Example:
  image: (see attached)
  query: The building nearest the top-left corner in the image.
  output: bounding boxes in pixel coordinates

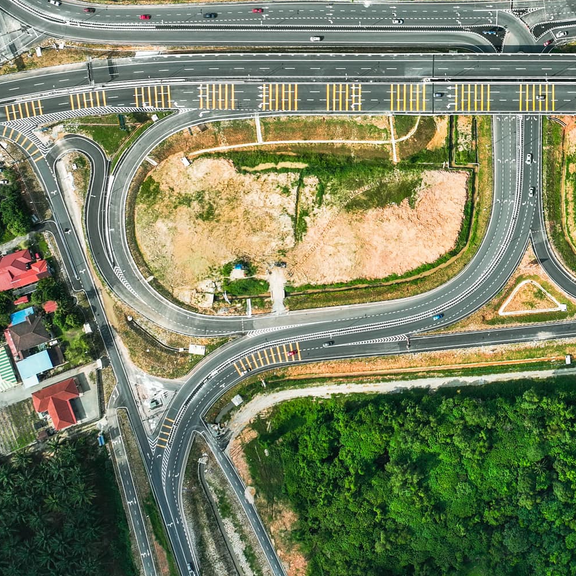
[0,247,48,289]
